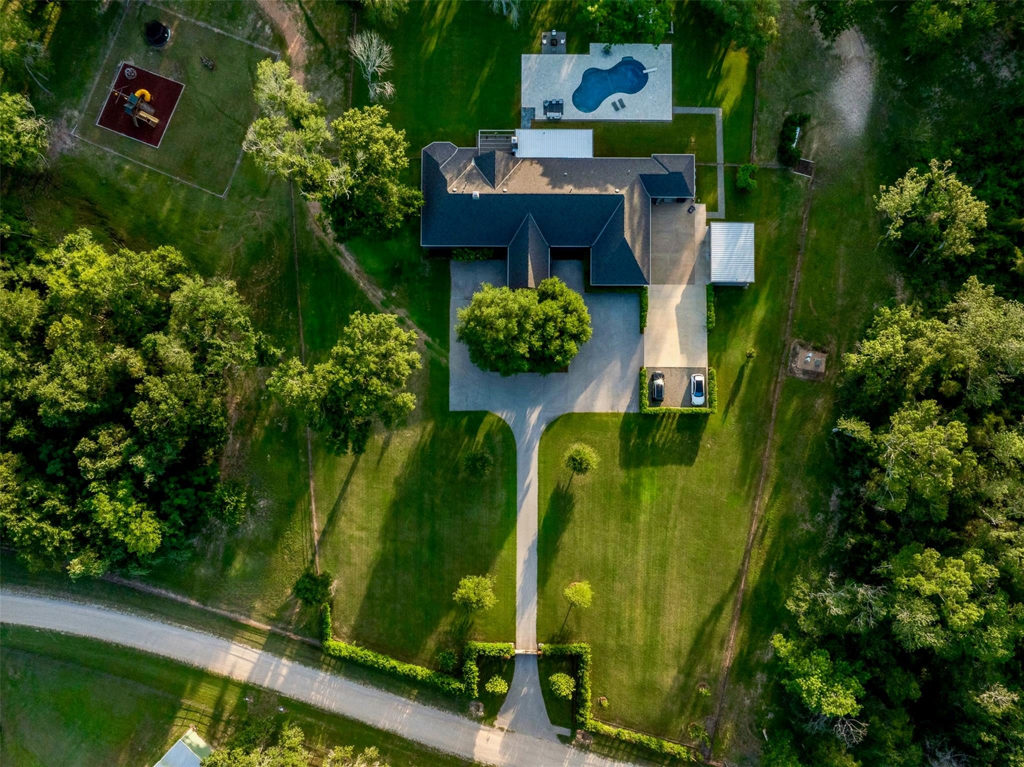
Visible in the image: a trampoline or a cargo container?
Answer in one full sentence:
I can see a trampoline in this picture.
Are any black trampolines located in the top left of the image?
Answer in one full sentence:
Yes, a black trampoline shows up in the top left of the image.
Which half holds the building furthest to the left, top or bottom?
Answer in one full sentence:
The building furthest to the left sits in the bottom half of the picture.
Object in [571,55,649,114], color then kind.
blue swimming pool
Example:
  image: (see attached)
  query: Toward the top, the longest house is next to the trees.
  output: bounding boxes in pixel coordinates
[420,136,696,289]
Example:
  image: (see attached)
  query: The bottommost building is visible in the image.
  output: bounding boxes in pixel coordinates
[154,722,219,767]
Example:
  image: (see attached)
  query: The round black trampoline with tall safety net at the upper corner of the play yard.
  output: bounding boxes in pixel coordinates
[138,15,169,46]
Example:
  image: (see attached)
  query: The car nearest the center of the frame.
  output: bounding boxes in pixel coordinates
[652,372,667,401]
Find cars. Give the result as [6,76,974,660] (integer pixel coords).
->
[692,374,705,405]
[652,372,667,401]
